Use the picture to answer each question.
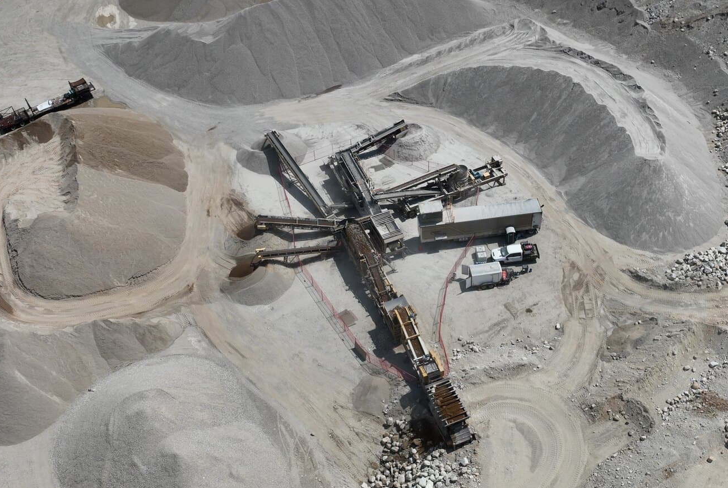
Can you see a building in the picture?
Yes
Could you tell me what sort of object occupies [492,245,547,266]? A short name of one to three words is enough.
vehicle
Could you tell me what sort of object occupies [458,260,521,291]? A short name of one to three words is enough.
trailer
